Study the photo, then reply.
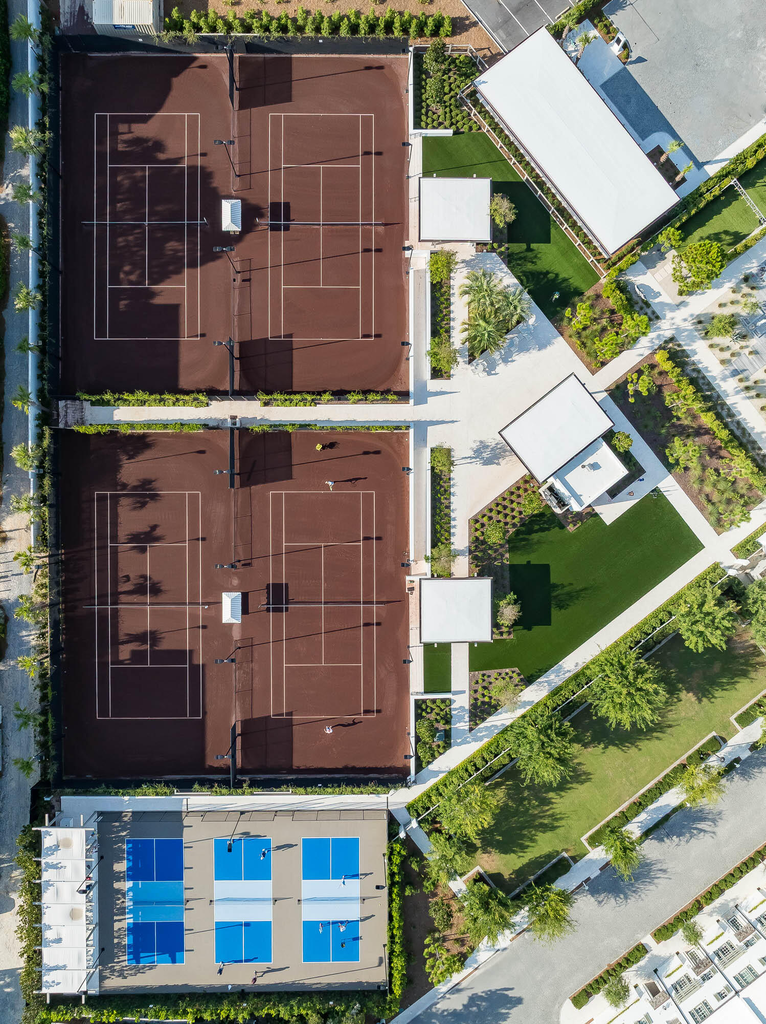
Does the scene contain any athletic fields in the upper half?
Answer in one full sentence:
No, no athletic field can be made out in the upper half.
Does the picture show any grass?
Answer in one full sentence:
Yes, some grass is visible.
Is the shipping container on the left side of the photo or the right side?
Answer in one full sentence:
The shipping container sits on the left side.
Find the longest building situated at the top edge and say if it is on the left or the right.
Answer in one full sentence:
The longest building situated at the top edge appears in the right half of the scene.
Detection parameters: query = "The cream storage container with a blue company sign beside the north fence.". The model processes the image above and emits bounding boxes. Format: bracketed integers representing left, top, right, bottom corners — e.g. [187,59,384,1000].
[92,0,160,35]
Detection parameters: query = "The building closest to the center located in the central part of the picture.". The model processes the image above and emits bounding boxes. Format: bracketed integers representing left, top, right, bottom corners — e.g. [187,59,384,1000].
[420,573,493,646]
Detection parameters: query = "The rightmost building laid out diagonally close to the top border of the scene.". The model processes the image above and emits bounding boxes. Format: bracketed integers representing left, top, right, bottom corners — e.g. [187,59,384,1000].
[473,27,681,261]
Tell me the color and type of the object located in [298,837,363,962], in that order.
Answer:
blue sports court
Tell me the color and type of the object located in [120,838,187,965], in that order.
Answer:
blue sports court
